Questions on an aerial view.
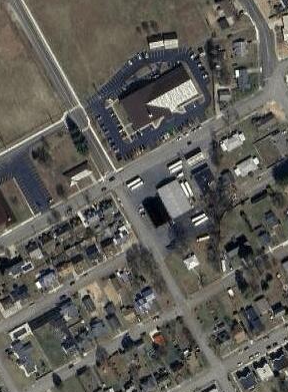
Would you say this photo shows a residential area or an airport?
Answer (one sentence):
This image shows a residential area.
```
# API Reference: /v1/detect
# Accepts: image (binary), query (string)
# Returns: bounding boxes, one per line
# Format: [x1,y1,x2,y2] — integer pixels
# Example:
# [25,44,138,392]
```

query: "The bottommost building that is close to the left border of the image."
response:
[11,331,39,374]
